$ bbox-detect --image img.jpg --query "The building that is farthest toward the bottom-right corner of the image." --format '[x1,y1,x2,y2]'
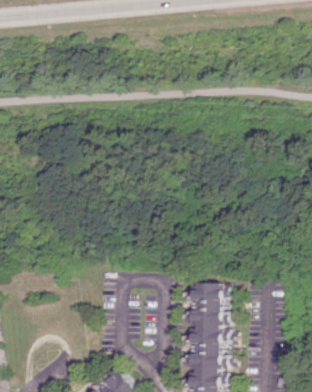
[180,285,232,392]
